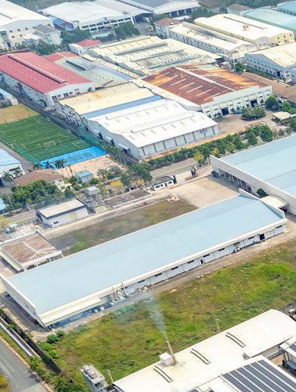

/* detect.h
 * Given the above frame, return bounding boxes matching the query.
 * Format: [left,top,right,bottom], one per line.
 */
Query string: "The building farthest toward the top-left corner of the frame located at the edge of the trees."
[0,9,54,45]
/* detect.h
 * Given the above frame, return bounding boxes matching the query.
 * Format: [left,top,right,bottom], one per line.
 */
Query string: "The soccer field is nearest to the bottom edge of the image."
[0,114,92,160]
